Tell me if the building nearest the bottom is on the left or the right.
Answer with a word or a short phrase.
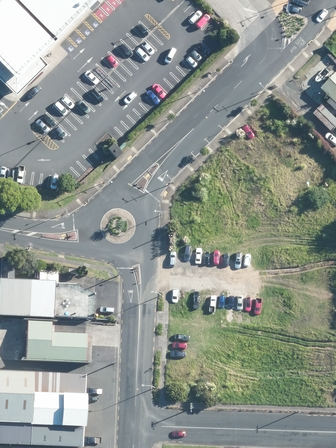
left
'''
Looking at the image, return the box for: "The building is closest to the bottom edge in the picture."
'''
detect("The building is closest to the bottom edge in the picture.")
[0,422,86,446]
